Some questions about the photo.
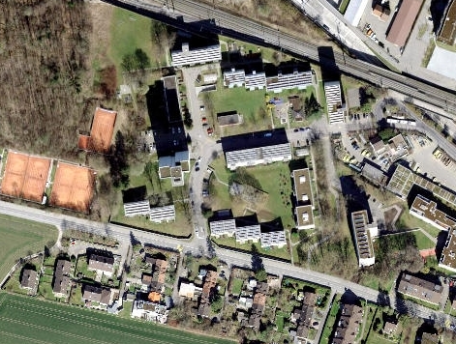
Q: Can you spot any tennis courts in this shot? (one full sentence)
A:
Yes, the image includes a tennis court.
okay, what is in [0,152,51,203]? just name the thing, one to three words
tennis court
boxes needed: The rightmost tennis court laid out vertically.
[91,109,117,153]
